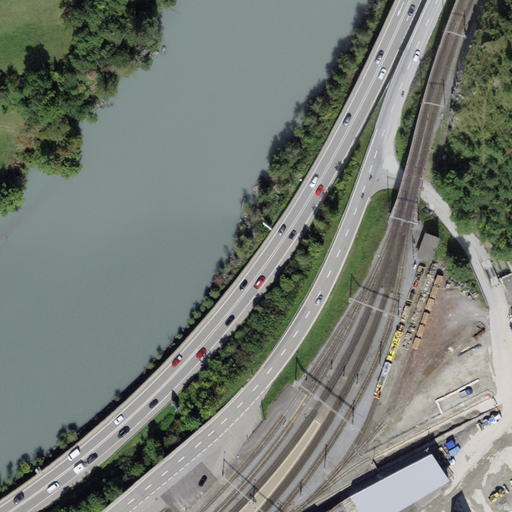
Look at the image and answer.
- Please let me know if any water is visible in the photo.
Yes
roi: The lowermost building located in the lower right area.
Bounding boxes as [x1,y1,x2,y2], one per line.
[350,456,446,512]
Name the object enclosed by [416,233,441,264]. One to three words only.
shed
